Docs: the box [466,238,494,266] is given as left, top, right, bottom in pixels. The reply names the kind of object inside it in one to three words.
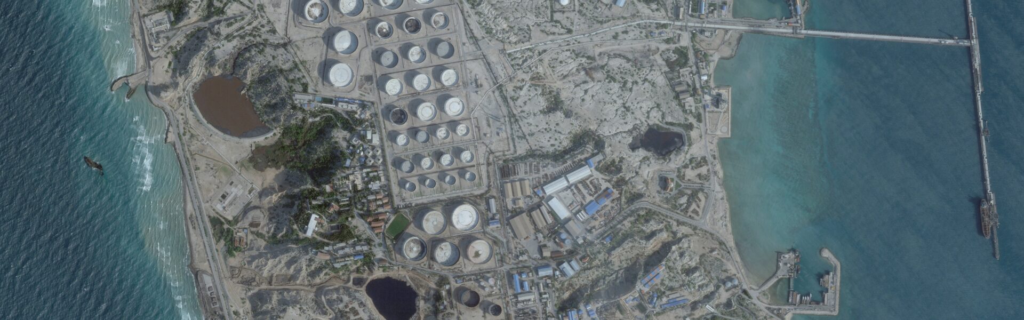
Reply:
storage tank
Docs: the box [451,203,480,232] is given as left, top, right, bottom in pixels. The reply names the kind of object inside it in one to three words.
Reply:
storage tank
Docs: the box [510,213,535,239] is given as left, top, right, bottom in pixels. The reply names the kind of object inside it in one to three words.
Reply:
building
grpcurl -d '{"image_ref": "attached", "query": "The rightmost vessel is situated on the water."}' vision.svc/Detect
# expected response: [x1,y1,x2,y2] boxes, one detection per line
[980,199,992,238]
